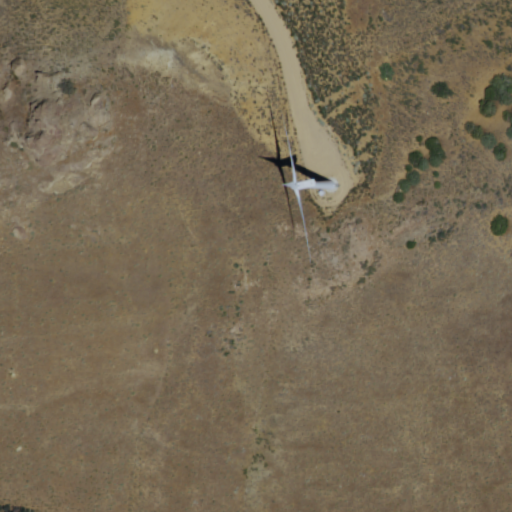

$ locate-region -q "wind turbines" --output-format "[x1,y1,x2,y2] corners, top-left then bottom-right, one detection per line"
[283,118,342,259]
